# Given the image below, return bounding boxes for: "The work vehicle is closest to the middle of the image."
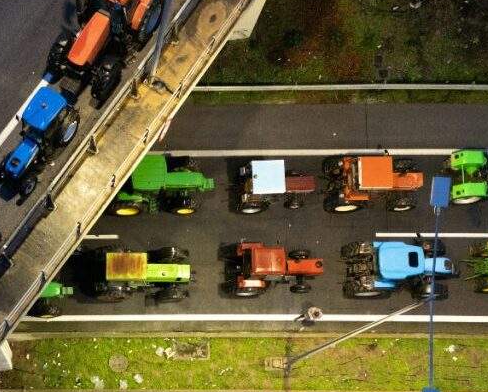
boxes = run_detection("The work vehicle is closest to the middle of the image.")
[228,160,317,215]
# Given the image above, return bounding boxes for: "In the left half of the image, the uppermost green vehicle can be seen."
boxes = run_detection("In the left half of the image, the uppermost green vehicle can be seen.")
[111,155,214,216]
